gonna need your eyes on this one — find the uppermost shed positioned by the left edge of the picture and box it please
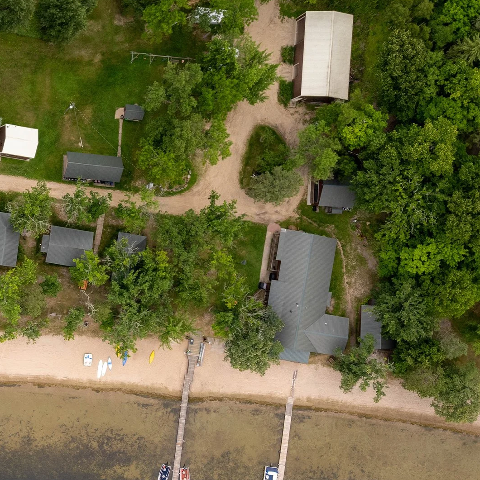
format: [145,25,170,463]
[0,124,38,163]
